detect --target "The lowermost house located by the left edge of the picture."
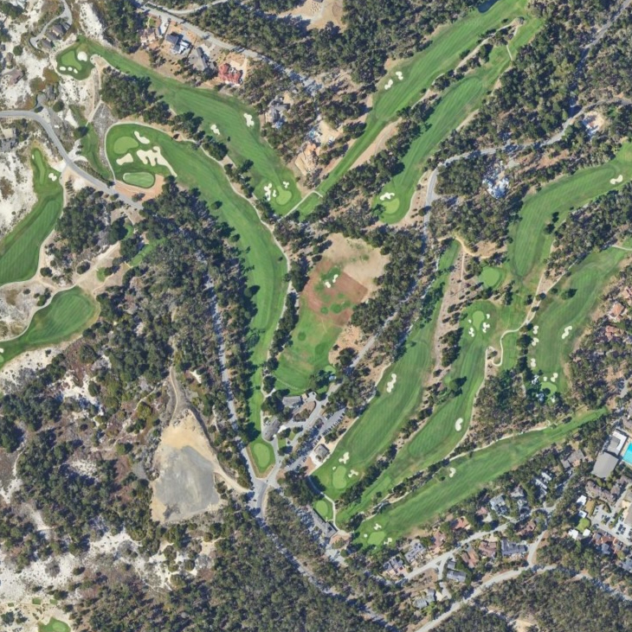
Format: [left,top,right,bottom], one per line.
[0,126,17,150]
